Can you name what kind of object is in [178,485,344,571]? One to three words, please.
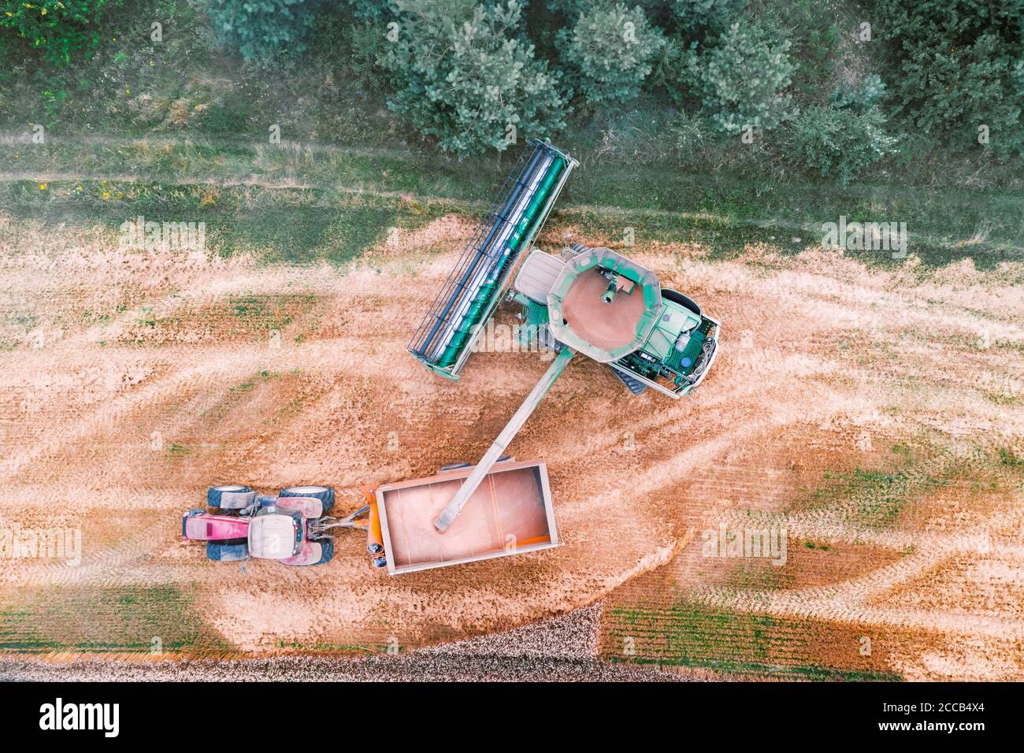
work vehicle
